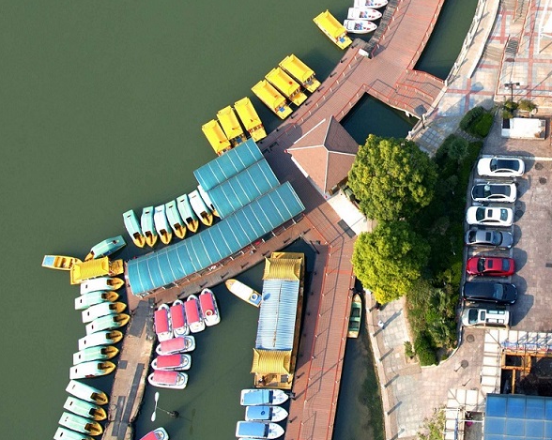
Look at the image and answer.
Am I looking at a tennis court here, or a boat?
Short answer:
boat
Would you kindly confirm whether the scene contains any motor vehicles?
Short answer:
Yes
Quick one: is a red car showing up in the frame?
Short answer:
Yes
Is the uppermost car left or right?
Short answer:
right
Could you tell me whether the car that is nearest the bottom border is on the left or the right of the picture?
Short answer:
right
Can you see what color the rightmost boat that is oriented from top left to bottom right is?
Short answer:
yellow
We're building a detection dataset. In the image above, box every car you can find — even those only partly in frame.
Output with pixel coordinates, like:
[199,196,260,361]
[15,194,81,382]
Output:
[466,253,516,277]
[462,303,512,329]
[477,155,525,178]
[466,203,513,228]
[471,180,518,204]
[463,280,518,305]
[466,226,514,250]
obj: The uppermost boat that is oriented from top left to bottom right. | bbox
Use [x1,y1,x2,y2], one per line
[313,7,352,49]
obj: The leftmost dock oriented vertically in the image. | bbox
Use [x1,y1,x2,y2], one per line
[104,306,158,427]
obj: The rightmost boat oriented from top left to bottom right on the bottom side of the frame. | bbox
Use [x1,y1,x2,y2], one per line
[227,280,263,308]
